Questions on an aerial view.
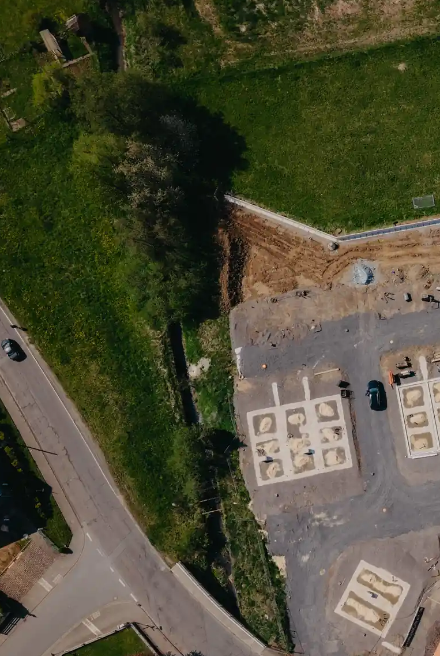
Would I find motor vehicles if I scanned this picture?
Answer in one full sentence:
Yes, looking at the shot, I can spot a motor vehicle.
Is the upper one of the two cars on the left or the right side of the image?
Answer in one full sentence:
You can find the upper one of the two cars on the left side of the picture.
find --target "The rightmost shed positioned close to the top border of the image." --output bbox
[66,14,90,40]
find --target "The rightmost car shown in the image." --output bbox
[368,380,384,411]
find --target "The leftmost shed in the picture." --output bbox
[41,28,65,57]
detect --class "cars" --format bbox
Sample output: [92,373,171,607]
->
[3,337,25,362]
[368,380,384,411]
